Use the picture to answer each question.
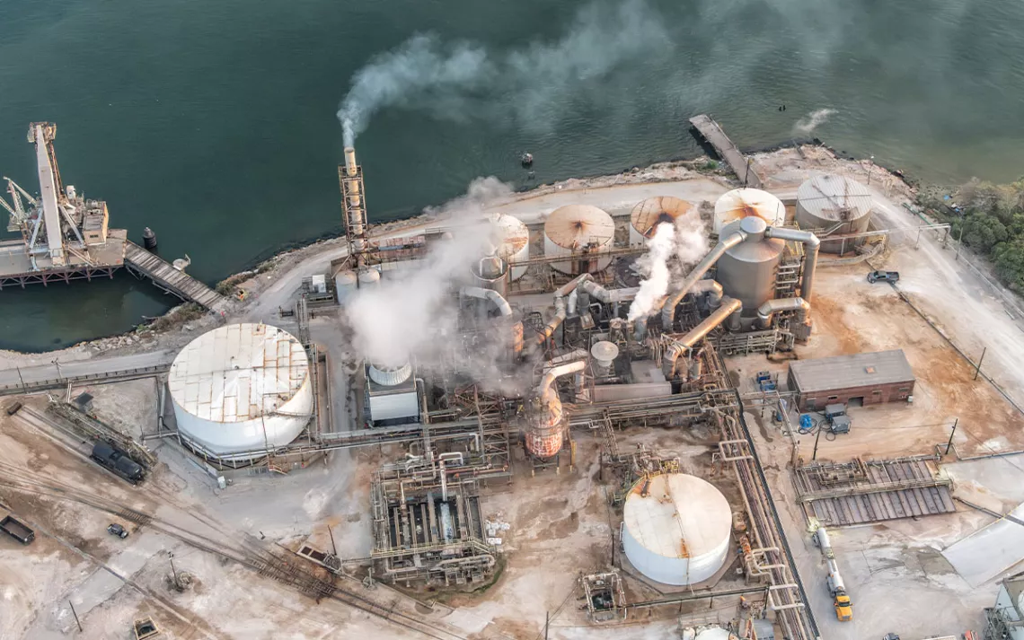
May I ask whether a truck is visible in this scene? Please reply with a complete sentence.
Yes, there's a truck here.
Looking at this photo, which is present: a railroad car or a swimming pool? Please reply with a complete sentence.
There is a railroad car in the scene.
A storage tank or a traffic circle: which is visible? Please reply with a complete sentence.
This aerial view contains a storage tank.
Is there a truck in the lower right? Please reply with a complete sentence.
Yes, there is a truck in the lower right.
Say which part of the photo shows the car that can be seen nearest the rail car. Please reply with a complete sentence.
The car that can be seen nearest the rail car appears toward the bottom left of the photo.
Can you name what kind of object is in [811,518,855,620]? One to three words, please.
truck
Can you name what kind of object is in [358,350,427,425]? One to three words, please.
cooling tower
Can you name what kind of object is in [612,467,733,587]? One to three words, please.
storage tank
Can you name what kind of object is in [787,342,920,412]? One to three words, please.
building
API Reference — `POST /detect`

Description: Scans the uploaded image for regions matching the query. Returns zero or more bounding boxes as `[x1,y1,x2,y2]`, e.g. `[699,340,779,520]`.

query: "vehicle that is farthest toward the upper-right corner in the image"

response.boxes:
[866,271,901,285]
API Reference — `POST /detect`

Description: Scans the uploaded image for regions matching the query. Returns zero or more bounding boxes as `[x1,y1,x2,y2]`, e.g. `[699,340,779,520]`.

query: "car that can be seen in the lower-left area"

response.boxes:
[102,516,132,540]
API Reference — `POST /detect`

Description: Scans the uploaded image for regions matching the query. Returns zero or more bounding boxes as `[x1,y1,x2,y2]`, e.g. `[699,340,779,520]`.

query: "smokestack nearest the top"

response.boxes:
[333,142,370,265]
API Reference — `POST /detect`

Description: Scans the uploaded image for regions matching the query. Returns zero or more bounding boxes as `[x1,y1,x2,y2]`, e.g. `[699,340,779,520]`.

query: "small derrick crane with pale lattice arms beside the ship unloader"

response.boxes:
[0,175,41,236]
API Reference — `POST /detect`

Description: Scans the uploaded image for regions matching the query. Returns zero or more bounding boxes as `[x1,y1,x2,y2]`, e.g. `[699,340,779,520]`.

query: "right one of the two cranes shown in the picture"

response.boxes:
[21,124,110,270]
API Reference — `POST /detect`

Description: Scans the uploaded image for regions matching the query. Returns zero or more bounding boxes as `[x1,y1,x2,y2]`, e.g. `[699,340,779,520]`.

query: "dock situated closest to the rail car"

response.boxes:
[0,230,133,288]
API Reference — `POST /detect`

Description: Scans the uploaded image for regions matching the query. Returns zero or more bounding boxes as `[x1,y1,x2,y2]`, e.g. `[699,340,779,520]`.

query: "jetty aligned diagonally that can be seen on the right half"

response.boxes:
[689,113,763,186]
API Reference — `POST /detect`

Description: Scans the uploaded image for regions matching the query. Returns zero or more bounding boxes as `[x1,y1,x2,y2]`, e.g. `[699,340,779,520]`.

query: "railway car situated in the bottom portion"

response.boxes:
[82,435,152,484]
